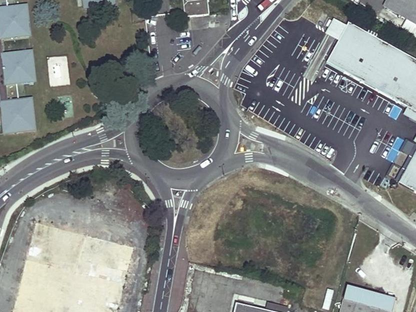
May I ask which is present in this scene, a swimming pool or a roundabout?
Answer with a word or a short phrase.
roundabout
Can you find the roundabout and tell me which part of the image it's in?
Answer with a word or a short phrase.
center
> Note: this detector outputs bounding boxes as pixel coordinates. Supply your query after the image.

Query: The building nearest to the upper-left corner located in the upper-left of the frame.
[0,2,32,39]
